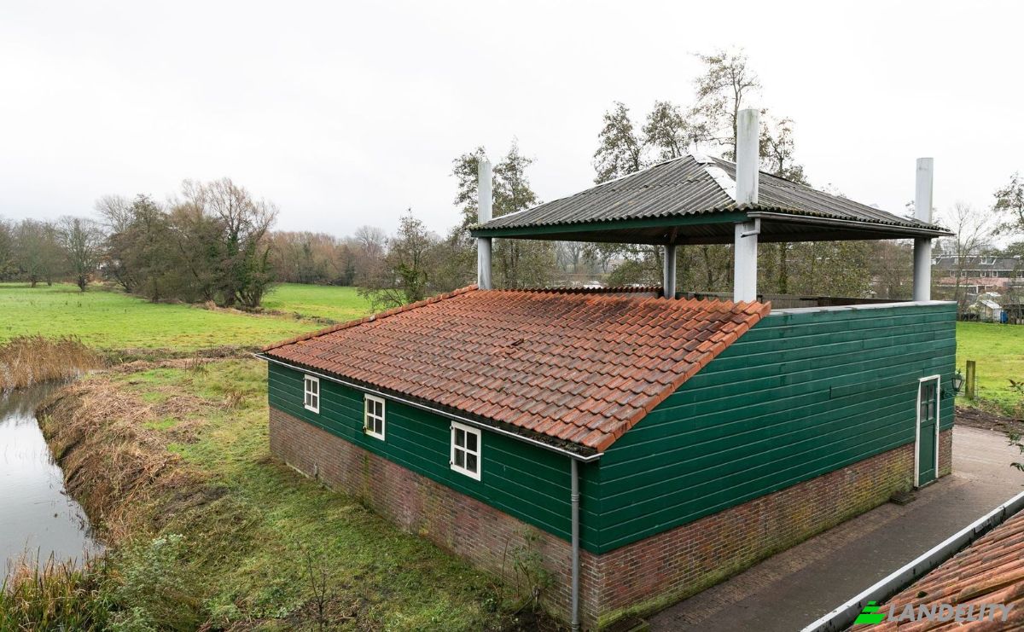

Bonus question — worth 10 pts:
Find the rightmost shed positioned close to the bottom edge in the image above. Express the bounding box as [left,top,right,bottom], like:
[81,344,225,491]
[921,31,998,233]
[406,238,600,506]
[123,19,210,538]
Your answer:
[796,495,1024,632]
